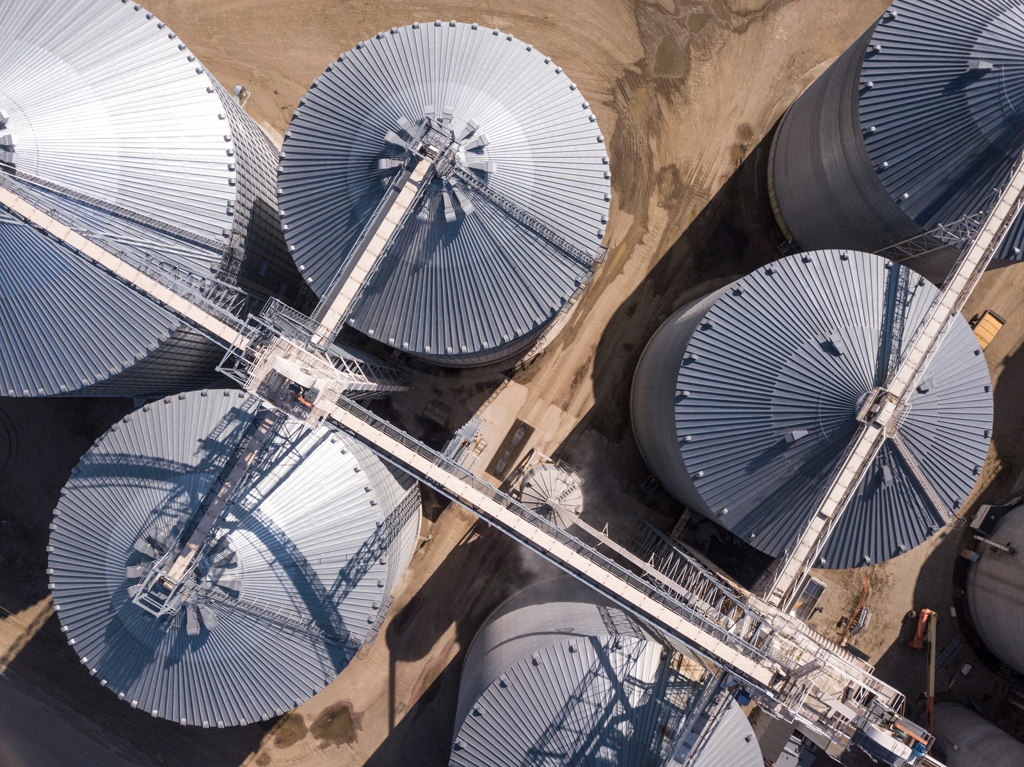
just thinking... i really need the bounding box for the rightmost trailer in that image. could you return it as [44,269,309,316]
[968,310,1006,353]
